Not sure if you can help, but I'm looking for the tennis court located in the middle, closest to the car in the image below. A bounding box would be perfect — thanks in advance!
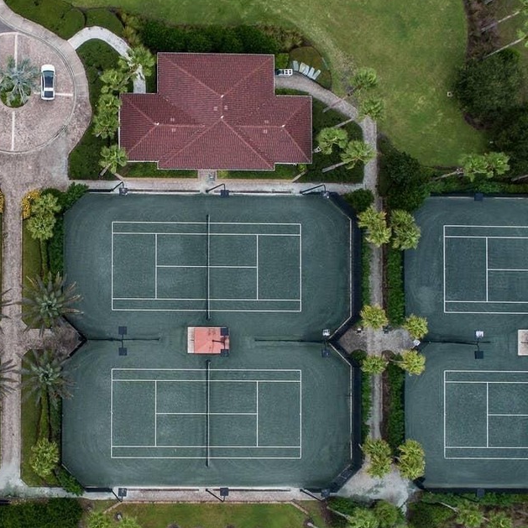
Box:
[64,192,352,340]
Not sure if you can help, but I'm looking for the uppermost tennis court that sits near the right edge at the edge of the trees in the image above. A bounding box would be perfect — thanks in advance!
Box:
[402,196,528,341]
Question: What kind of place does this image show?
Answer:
sports ground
